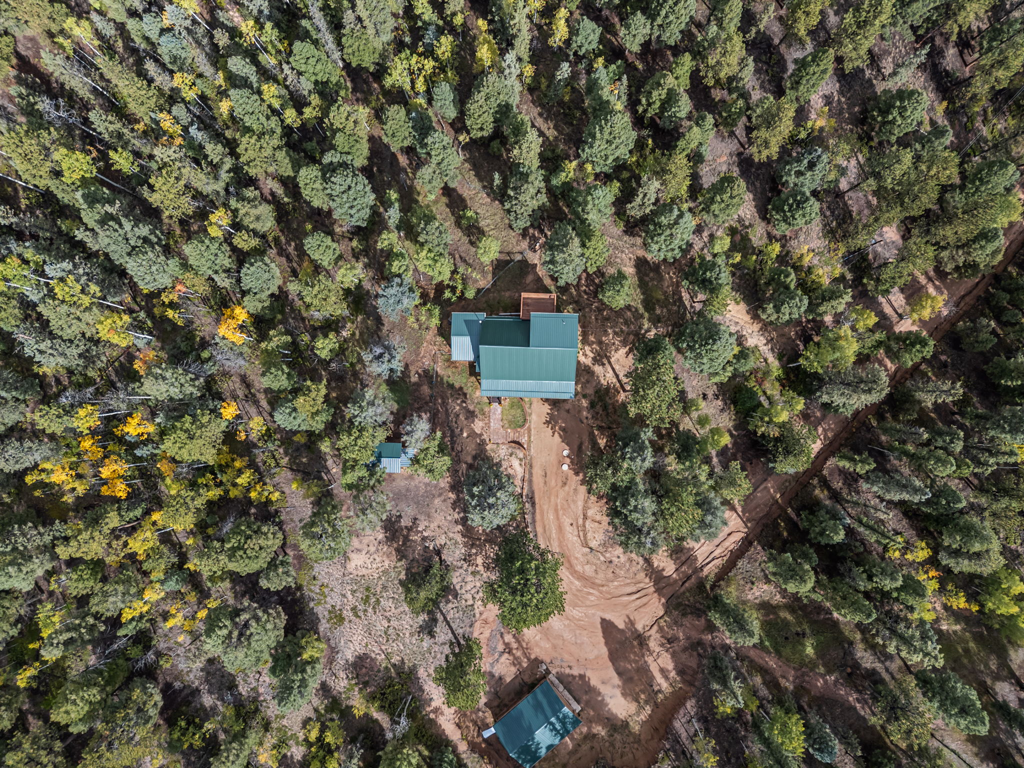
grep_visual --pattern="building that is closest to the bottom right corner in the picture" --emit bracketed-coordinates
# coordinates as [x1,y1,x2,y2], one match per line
[482,674,583,768]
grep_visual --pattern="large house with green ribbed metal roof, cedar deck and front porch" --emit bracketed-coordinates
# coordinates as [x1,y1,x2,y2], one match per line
[451,293,579,400]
